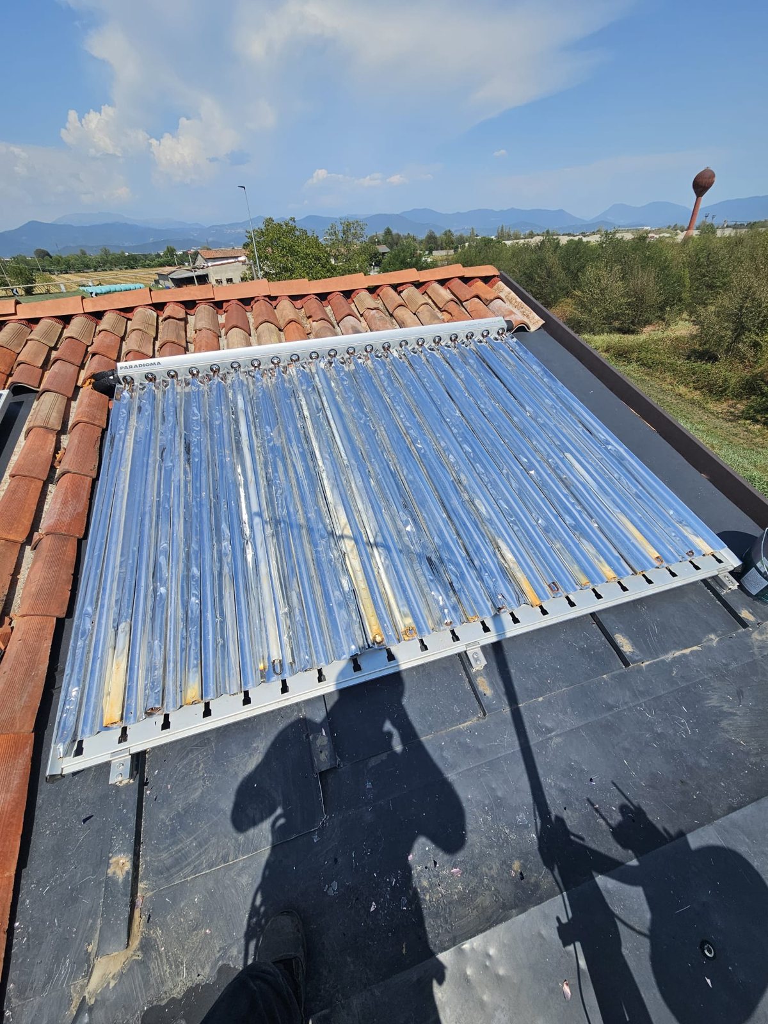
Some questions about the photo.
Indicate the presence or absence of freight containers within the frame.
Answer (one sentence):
No, the frame has no freight container in it.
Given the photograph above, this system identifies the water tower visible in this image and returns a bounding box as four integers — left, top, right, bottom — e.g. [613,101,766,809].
[682,160,718,233]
